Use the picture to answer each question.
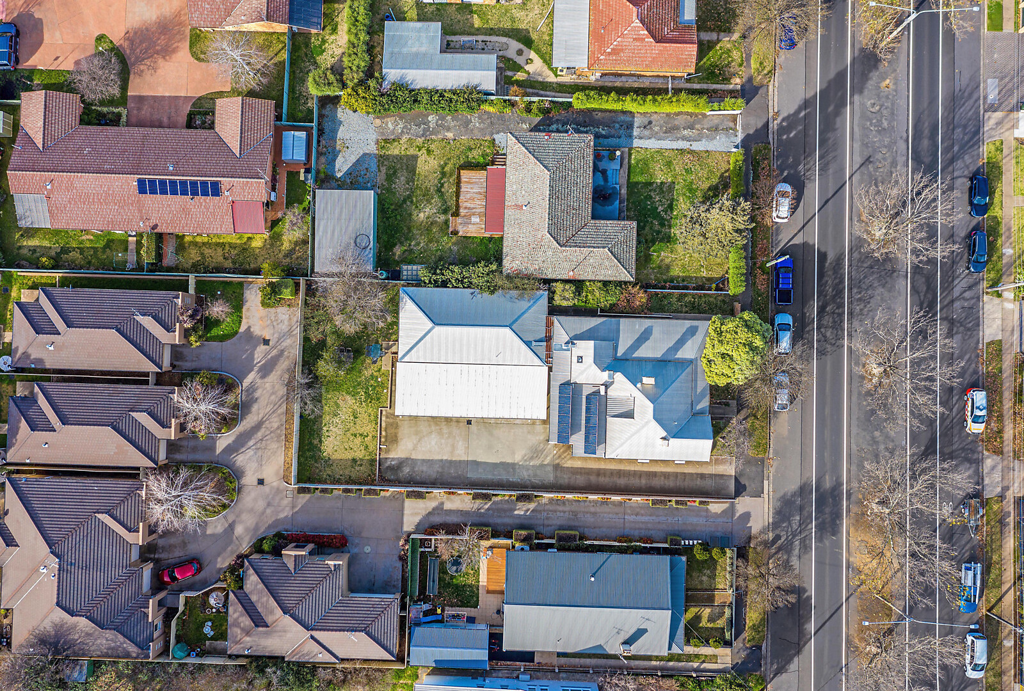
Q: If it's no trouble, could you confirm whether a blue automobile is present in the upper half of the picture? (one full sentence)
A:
Yes, a blue automobile is visible in the upper half of the picture.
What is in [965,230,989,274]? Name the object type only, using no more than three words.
car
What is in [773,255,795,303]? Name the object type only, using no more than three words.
truck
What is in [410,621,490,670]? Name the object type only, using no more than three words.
shed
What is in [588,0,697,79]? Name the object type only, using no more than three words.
house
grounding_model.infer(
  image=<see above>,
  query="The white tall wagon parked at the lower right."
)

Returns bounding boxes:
[963,632,989,680]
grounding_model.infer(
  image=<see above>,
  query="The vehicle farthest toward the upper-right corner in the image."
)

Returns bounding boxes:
[966,174,990,218]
